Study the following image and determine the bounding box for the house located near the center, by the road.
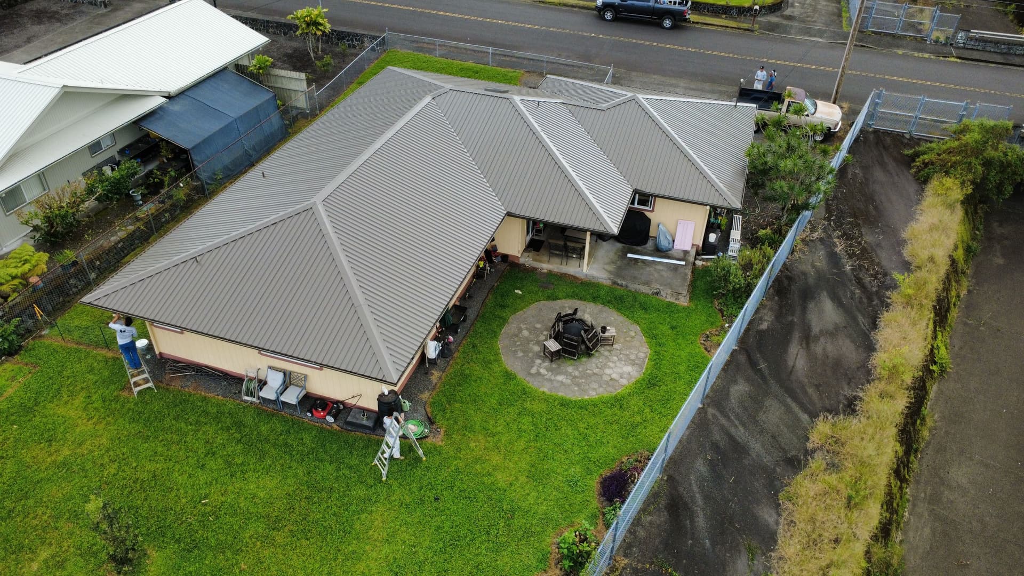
[77,65,759,412]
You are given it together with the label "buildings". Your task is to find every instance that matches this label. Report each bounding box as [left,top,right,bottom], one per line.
[0,1,272,255]
[77,65,759,412]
